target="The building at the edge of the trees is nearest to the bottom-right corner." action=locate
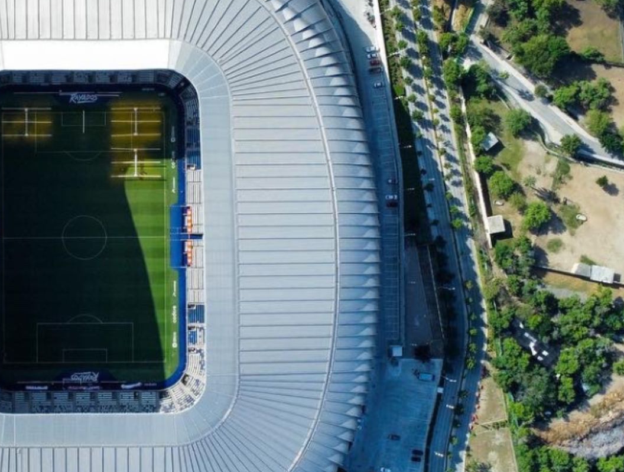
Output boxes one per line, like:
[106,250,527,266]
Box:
[508,319,554,362]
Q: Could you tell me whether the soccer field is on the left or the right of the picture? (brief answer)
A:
left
